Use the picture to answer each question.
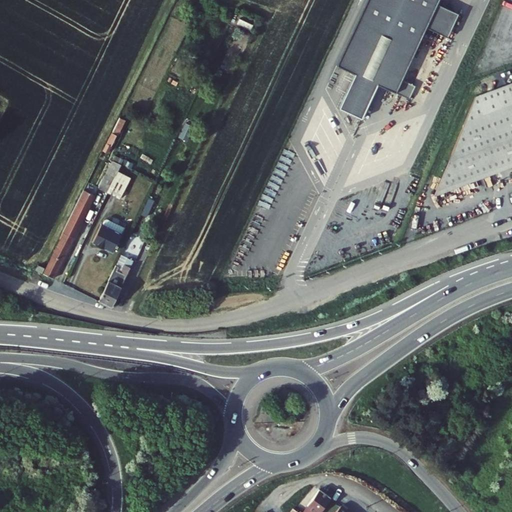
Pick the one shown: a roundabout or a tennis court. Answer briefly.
roundabout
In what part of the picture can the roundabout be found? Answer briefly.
bottom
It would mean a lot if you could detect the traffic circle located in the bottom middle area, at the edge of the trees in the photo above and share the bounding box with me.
[224,357,338,472]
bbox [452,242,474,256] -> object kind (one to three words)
vehicle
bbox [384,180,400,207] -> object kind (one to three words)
vehicle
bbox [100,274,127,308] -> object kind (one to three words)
house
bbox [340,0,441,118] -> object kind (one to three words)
building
